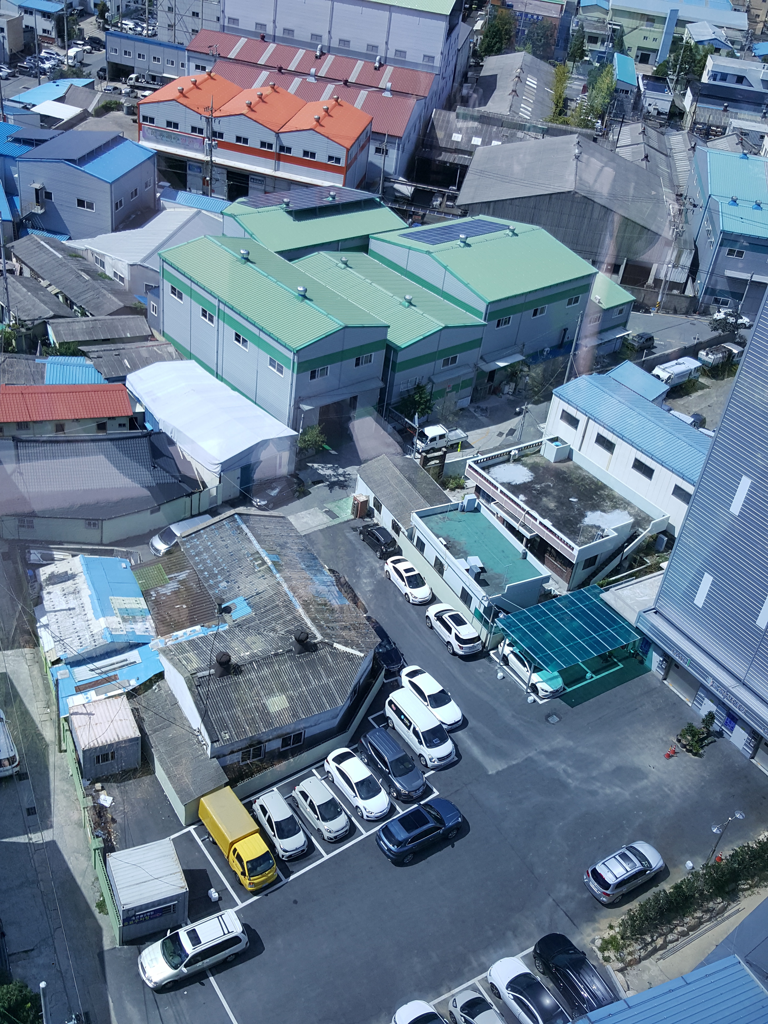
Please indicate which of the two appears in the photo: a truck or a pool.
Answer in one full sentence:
I can see a truck in this picture.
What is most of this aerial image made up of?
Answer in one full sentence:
The bulk of the photo consists of buildings.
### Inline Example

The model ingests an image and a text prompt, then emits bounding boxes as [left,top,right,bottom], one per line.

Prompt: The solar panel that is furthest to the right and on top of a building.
[399,219,508,245]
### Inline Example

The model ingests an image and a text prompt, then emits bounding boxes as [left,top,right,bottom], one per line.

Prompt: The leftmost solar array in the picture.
[227,185,382,217]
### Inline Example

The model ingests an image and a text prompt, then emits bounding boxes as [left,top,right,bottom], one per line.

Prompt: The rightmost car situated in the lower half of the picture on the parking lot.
[580,842,669,906]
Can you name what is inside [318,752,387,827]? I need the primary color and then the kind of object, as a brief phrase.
white car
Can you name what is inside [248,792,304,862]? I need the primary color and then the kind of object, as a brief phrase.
white car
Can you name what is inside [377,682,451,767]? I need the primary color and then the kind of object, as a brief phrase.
white van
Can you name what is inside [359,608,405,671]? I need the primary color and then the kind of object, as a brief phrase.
black car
